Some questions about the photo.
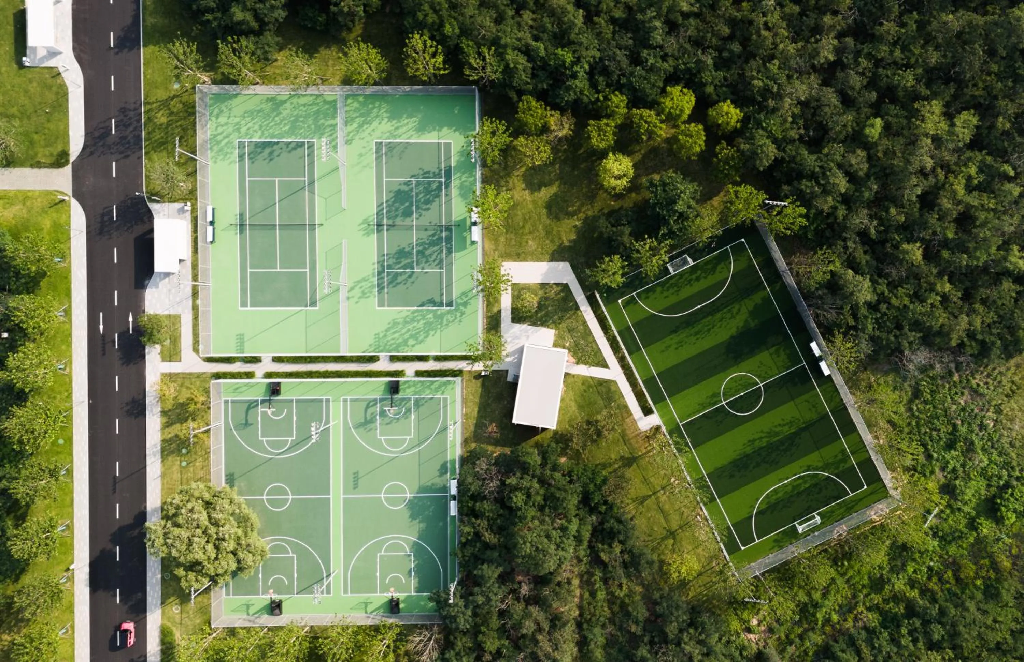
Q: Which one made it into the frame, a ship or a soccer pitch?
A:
soccer pitch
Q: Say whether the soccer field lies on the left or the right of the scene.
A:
right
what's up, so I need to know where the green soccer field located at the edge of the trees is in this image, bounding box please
[602,217,891,568]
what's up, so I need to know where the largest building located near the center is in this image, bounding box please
[513,344,568,429]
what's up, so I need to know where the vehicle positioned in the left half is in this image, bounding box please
[117,623,134,651]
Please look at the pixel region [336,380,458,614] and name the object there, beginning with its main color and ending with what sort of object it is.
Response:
green basketball court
